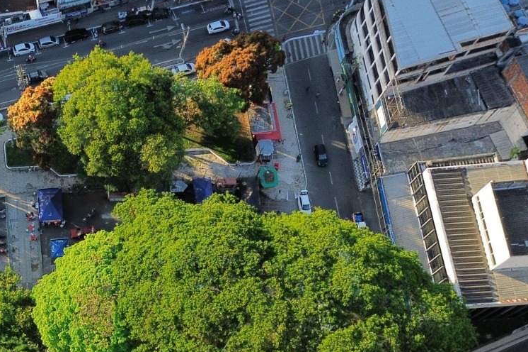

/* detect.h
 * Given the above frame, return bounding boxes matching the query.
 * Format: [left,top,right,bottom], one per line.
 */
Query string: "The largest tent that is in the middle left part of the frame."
[37,188,63,228]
